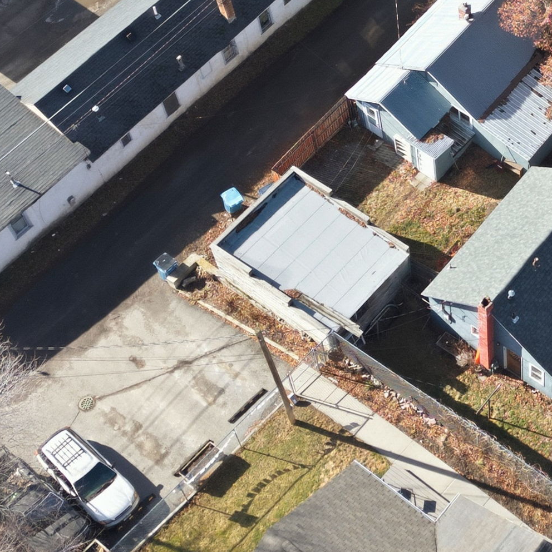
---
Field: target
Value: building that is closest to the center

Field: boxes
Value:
[207,161,414,359]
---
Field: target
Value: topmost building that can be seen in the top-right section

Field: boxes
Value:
[344,0,552,179]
